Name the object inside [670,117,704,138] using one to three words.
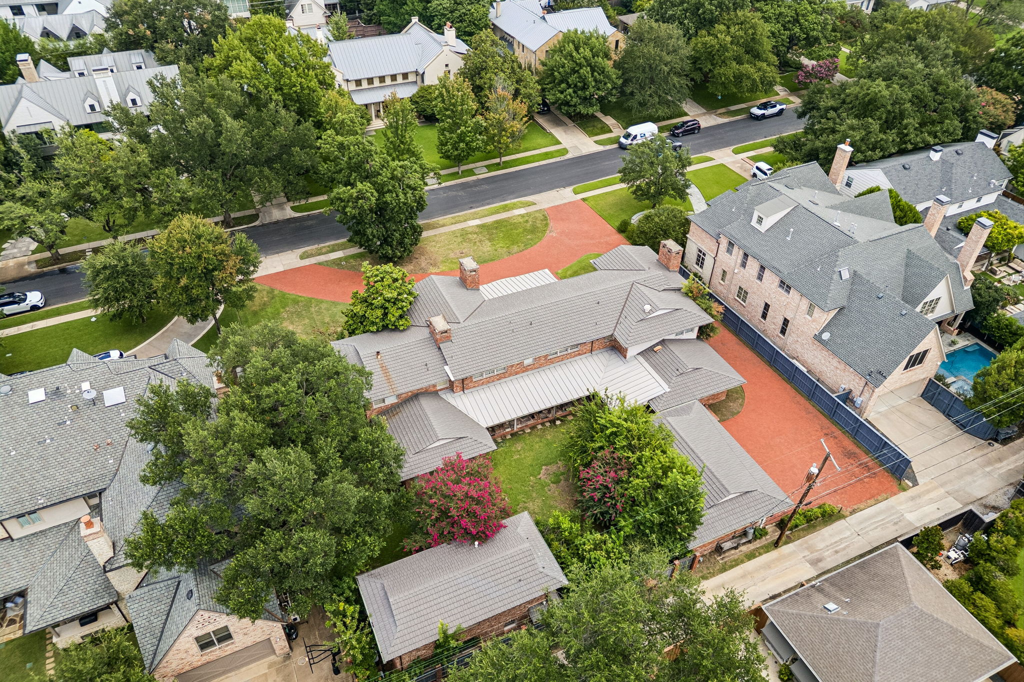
car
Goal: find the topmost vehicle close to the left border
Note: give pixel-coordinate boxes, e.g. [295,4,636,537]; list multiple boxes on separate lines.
[0,288,48,318]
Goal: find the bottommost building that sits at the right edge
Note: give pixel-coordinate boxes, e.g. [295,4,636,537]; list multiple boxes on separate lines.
[758,540,1024,682]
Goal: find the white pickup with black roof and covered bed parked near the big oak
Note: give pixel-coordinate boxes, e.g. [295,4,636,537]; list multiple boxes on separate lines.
[752,100,790,121]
